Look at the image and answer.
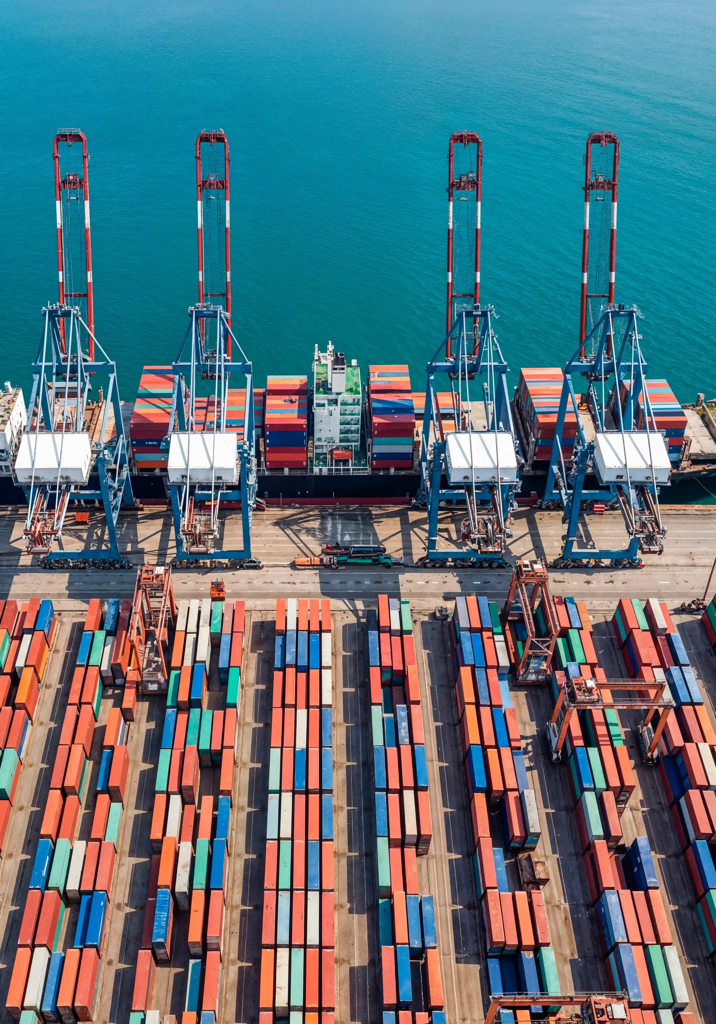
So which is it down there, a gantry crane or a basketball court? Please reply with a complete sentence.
This aerial view contains a gantry crane.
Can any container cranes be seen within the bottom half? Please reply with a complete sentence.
Yes, you'll find a container crane within the bottom half.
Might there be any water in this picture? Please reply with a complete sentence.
Yes, there is water in the image.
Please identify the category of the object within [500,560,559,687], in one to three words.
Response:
container crane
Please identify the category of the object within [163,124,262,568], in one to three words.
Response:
container crane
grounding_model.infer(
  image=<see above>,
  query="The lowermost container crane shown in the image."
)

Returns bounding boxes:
[486,987,635,1024]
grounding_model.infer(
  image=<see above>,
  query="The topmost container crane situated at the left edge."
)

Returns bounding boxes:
[14,124,133,568]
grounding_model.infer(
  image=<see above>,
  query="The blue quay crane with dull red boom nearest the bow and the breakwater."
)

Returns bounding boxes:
[548,124,671,568]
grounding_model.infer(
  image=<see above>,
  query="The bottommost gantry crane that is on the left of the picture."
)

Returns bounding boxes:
[127,568,181,696]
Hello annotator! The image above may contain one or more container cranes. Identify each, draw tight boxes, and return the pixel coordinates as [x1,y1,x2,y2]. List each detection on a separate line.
[546,670,673,764]
[127,568,181,696]
[548,124,671,568]
[14,124,133,568]
[500,560,559,687]
[163,124,262,568]
[417,124,519,568]
[486,987,635,1024]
